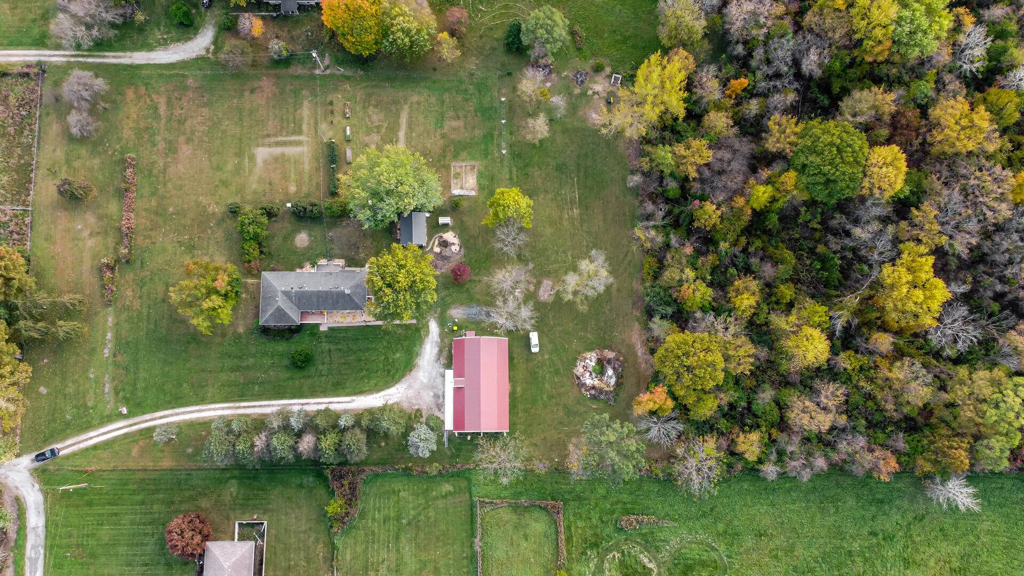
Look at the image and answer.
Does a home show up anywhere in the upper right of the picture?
No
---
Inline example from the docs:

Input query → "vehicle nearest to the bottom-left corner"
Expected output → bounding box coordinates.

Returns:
[34,445,62,464]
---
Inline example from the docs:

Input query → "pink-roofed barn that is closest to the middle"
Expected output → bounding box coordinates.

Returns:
[445,331,509,436]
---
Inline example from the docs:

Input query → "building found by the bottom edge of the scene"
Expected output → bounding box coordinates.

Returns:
[202,540,255,576]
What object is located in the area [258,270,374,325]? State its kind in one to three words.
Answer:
house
